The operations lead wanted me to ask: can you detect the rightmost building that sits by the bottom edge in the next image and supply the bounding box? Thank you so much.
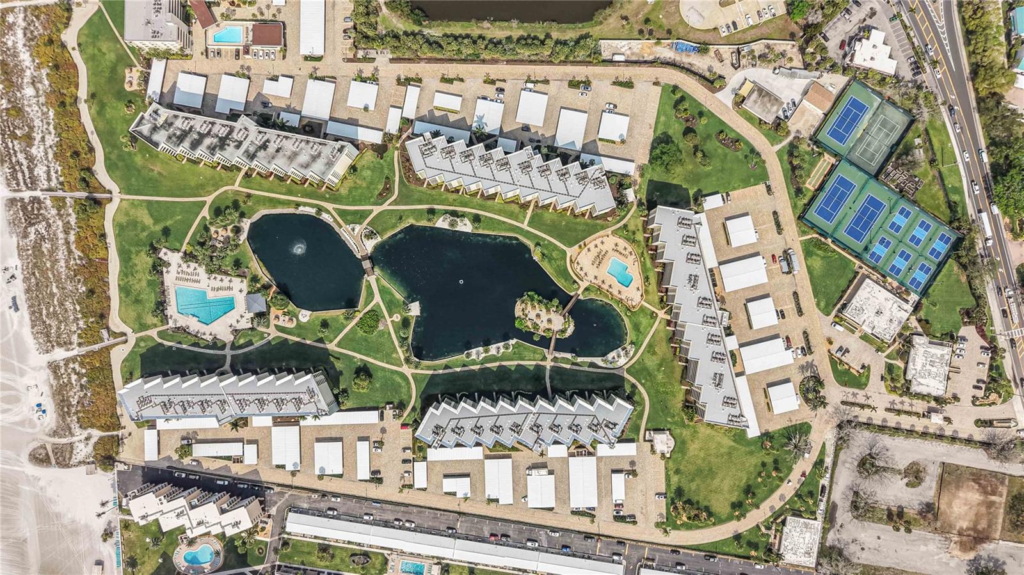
[777,515,821,567]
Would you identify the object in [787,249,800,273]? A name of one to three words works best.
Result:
vehicle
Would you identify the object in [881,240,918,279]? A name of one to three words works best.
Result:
sports court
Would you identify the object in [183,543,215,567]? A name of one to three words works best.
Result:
swimming pool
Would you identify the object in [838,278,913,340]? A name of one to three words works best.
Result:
building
